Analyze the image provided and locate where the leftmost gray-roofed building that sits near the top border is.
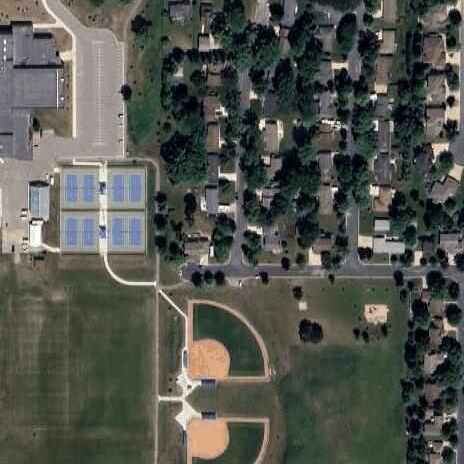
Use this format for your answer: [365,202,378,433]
[0,22,63,162]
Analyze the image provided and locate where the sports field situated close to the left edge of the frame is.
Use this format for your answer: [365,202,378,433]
[0,295,69,430]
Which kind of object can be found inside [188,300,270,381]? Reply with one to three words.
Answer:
baseball field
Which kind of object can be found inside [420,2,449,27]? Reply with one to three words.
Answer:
house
